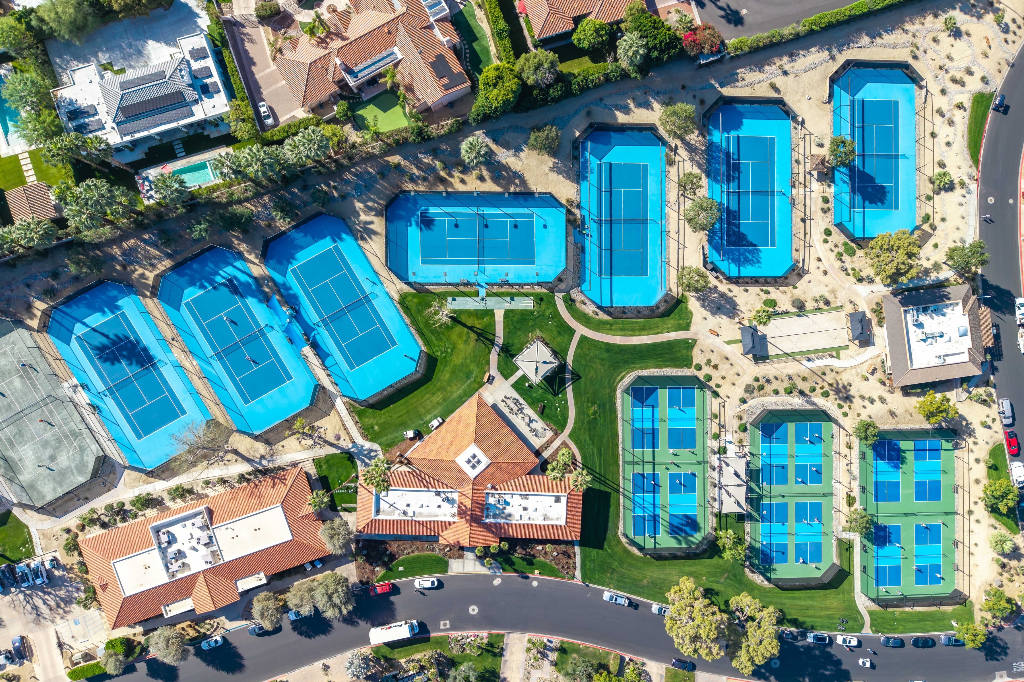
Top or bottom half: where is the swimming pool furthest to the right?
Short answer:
top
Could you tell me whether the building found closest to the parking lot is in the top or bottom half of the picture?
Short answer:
bottom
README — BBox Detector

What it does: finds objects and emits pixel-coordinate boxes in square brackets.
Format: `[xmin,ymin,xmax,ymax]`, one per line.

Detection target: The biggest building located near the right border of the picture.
[878,283,985,387]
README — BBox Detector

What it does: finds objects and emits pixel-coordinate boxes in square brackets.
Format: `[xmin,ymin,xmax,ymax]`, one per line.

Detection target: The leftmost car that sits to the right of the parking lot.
[200,635,225,650]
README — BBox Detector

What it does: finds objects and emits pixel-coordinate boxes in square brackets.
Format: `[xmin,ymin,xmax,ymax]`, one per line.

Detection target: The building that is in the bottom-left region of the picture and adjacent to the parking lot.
[78,467,332,631]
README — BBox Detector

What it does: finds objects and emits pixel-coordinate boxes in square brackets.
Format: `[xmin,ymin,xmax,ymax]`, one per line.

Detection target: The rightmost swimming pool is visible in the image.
[172,159,216,184]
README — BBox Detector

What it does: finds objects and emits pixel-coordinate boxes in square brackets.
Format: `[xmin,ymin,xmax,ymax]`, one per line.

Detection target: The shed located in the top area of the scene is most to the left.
[5,181,65,220]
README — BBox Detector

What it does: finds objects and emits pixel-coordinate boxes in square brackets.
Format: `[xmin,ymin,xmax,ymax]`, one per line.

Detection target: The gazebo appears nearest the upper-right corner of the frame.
[804,154,827,174]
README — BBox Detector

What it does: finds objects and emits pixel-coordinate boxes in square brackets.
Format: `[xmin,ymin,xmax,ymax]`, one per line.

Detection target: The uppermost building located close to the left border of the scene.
[50,32,233,161]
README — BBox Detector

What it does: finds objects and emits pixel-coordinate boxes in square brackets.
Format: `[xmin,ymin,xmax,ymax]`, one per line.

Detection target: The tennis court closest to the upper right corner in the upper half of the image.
[833,68,916,235]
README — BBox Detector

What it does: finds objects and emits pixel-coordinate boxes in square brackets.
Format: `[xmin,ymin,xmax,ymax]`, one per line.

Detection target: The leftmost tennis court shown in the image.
[0,318,104,509]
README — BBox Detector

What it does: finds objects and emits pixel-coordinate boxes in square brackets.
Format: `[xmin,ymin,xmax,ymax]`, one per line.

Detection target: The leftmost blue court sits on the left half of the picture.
[47,281,212,470]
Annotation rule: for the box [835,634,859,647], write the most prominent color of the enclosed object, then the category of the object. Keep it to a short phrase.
white vehicle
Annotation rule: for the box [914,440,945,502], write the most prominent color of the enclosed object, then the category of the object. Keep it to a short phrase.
blue sports court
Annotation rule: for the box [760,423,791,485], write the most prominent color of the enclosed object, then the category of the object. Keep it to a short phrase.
blue sports court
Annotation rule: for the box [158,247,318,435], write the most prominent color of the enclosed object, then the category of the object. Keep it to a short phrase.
blue tennis court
